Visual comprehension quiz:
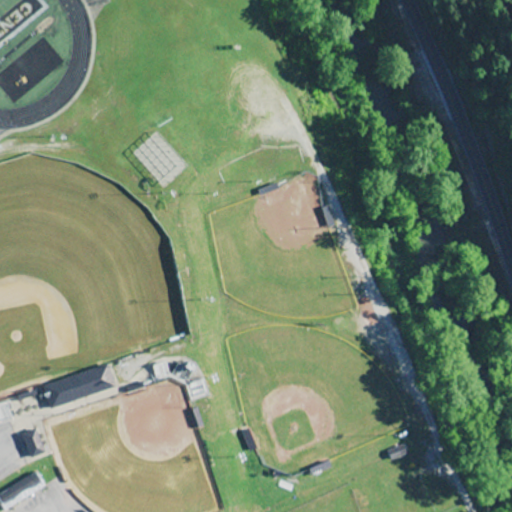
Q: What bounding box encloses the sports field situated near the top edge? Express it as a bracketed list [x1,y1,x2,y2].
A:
[0,0,74,108]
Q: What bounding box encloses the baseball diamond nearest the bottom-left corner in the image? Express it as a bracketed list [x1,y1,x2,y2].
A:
[46,378,223,512]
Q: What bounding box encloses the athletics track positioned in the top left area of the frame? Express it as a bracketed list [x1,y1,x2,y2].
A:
[0,0,93,128]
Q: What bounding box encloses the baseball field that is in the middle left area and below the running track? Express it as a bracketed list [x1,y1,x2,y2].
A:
[0,154,186,398]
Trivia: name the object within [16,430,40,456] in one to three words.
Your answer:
shed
